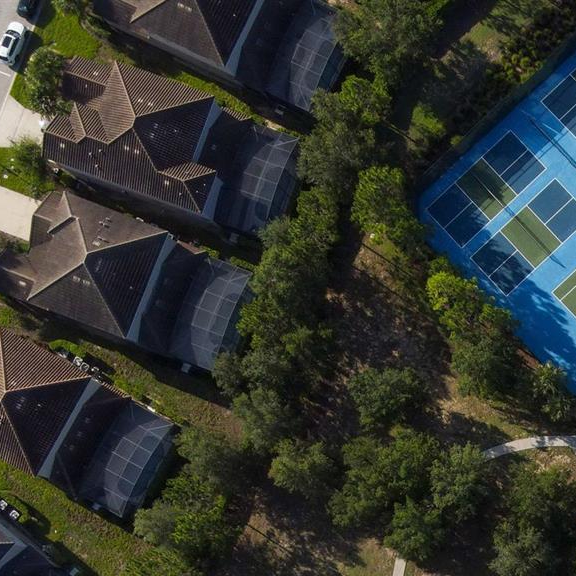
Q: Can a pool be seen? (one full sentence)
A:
Yes, the image includes a pool.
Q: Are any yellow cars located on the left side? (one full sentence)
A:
No, I can find no yellow car on the left side.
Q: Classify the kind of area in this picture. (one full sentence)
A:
It's a residential area.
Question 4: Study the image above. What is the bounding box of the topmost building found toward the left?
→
[91,0,354,124]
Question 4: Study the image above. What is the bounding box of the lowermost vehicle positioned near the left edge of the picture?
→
[0,21,27,67]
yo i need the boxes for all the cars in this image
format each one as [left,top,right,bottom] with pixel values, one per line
[0,21,27,67]
[16,0,42,21]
